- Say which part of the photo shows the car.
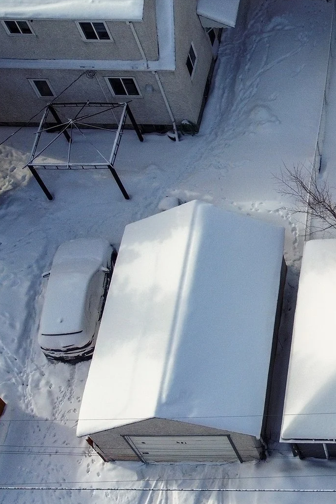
left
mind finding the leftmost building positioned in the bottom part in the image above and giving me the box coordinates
[79,209,292,467]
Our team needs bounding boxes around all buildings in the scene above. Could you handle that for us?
[0,0,246,141]
[281,242,336,463]
[79,209,292,467]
